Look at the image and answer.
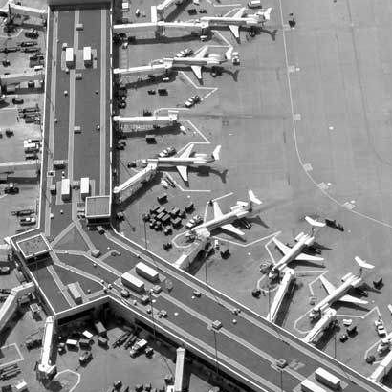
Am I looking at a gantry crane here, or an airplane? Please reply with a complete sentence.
Looking from above, you can make out an airplane.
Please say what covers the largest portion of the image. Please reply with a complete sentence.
Most of the picture is covered by paved ground.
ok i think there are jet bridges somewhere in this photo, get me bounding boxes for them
[174,227,212,270]
[112,59,174,88]
[156,21,209,42]
[369,337,392,383]
[113,109,179,136]
[38,314,60,384]
[266,266,294,325]
[300,305,336,346]
[155,0,186,21]
[0,71,44,96]
[0,160,42,185]
[0,0,46,26]
[114,157,158,208]
[172,345,187,392]
[0,280,37,338]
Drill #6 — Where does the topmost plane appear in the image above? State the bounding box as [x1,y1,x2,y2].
[192,3,271,36]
